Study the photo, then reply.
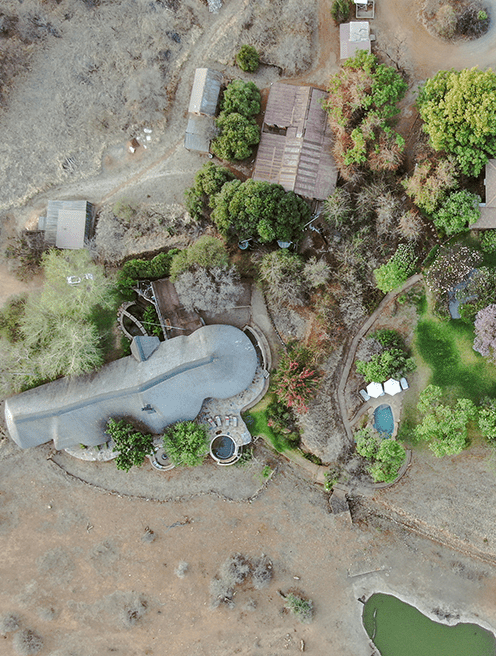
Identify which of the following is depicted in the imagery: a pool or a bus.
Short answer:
pool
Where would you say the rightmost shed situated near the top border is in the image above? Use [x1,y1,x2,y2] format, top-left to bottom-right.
[340,22,375,63]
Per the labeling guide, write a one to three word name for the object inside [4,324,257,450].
building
